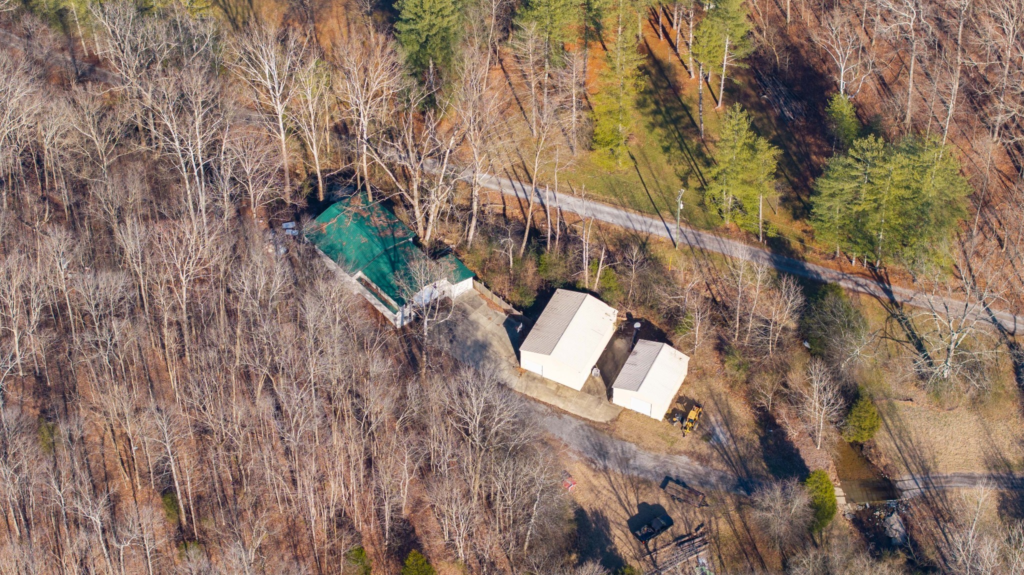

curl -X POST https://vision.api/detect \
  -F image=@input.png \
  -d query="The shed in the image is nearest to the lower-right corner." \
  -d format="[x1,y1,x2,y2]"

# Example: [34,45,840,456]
[611,340,690,422]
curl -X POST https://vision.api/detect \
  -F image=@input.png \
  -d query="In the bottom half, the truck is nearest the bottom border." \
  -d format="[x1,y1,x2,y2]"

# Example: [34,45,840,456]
[632,514,674,544]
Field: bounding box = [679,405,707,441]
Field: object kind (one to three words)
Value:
work vehicle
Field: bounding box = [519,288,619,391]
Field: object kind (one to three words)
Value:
shed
